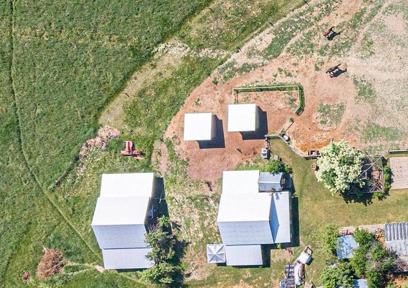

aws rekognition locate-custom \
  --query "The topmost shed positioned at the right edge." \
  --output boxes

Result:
[385,222,408,241]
